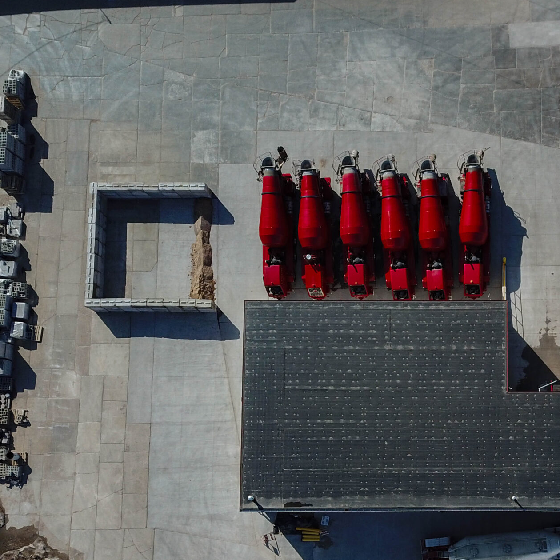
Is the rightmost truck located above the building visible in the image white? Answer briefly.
No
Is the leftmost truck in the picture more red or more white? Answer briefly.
red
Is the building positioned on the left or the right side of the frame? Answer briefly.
right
